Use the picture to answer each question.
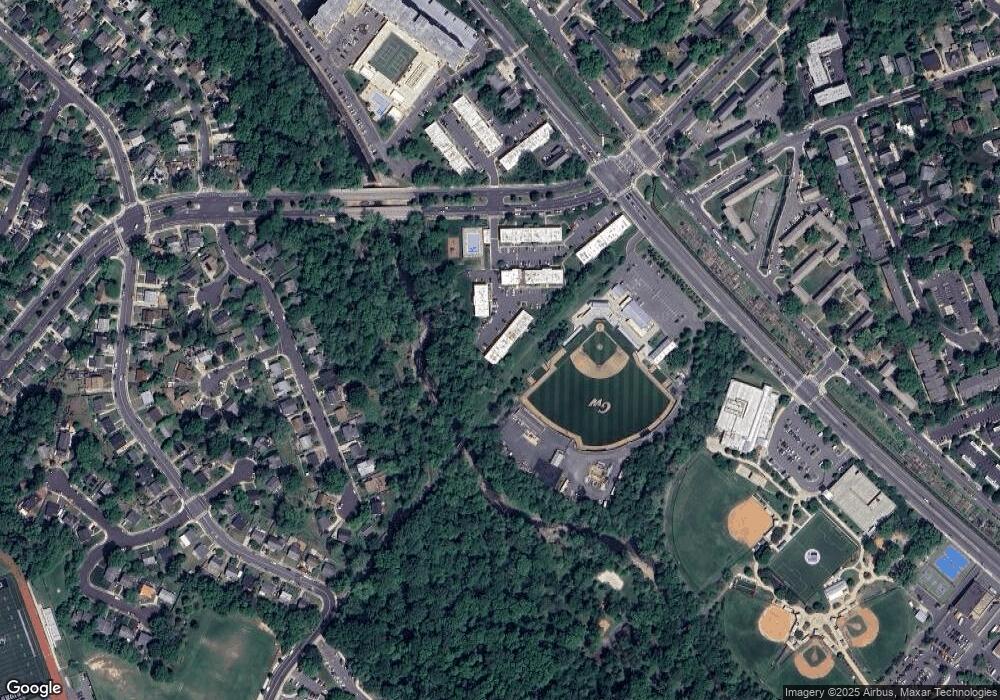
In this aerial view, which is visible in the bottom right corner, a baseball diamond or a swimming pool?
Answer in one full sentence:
What appears in the bottom right corner is a baseball diamond.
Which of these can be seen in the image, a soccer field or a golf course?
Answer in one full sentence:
Visible in the photo is a soccer field.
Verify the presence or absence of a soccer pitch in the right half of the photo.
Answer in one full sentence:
Yes, a soccer pitch shows up in the right half of the photo.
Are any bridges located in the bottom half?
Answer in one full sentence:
No, no bridge can be made out in the bottom half.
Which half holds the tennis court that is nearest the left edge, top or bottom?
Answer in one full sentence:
You can find the tennis court that is nearest the left edge in the top half.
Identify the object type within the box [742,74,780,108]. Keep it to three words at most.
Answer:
building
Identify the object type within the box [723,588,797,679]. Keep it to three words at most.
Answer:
baseball field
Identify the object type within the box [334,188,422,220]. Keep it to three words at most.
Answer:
bridge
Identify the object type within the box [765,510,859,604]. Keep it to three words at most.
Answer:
soccer field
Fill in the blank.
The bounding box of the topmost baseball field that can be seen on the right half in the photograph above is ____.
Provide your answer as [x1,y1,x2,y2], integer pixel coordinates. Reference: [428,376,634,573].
[522,319,740,452]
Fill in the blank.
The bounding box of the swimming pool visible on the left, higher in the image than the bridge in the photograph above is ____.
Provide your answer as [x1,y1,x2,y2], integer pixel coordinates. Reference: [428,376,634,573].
[360,88,394,120]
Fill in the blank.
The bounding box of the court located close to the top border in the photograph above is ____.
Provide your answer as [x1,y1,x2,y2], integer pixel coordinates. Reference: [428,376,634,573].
[369,33,417,79]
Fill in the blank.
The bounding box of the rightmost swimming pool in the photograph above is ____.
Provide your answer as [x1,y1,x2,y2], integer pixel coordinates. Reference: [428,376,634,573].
[463,227,483,257]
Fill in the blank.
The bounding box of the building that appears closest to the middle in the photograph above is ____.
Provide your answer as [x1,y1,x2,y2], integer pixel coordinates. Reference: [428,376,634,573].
[486,310,533,364]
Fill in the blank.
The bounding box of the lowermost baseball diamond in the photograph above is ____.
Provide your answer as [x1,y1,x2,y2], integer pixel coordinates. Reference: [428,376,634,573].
[771,635,865,700]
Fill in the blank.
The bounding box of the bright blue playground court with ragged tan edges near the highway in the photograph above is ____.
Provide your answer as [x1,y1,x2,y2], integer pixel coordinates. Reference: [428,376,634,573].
[930,546,971,586]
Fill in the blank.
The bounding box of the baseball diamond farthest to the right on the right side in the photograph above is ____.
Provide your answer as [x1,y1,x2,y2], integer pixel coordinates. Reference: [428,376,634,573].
[832,589,920,679]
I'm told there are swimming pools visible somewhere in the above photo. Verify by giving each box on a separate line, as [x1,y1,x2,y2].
[360,88,394,120]
[463,227,483,257]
